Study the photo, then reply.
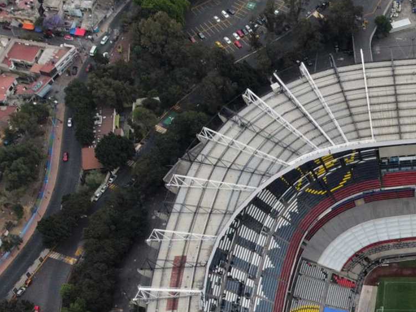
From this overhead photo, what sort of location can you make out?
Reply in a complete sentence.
This image shows a sports ground.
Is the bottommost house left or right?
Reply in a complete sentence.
You can find the bottommost house on the left side of the picture.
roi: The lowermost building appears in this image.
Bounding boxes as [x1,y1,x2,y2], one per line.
[81,147,105,176]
